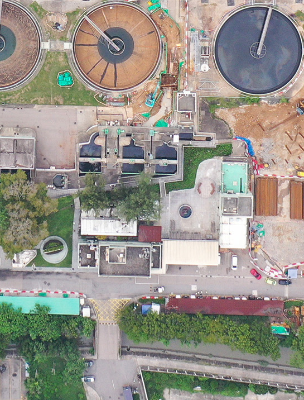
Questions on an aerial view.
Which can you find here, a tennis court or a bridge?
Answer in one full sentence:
It is a bridge that can be seen here.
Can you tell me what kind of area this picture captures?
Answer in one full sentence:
What you see here is an industrial area.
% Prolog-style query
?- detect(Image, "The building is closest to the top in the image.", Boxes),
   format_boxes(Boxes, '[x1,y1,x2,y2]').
[177,90,196,113]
